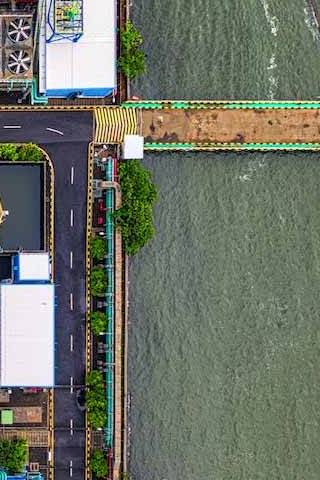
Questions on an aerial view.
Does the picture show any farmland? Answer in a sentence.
No, the scene doesn't show any farmland.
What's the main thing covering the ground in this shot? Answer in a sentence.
The scene is dominated by water.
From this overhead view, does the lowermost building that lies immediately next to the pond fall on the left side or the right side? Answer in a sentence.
The lowermost building that lies immediately next to the pond appears in the left half of the scene.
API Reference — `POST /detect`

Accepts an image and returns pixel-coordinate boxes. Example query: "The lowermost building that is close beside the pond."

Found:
[0,284,55,387]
